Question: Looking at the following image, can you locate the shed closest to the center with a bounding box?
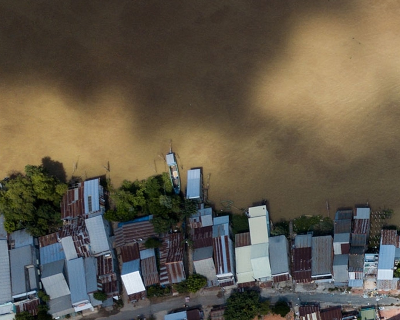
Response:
[186,169,206,199]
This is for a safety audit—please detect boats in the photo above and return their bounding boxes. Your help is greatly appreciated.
[166,141,182,192]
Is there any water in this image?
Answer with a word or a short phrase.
Yes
